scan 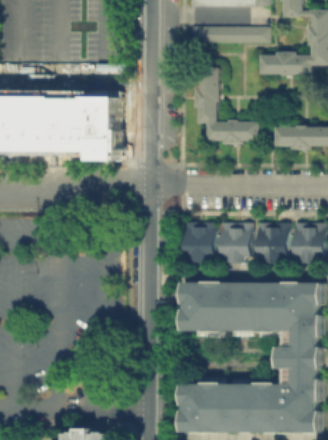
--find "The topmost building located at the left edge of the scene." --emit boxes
[0,95,114,164]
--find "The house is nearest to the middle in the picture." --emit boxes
[186,222,216,263]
